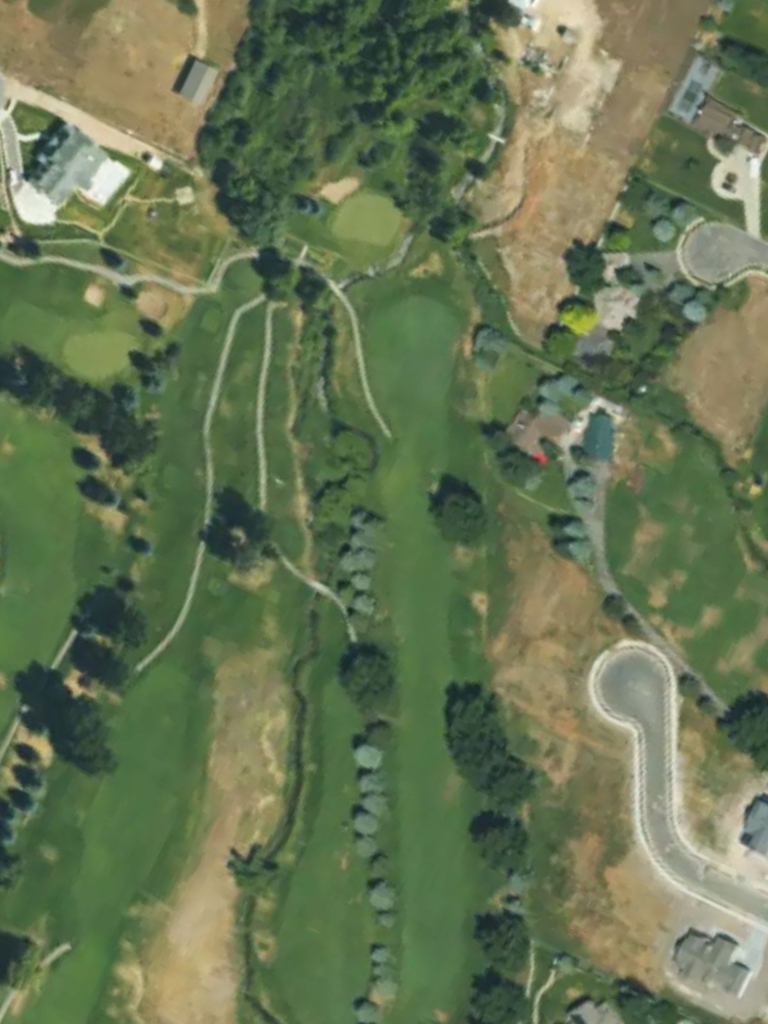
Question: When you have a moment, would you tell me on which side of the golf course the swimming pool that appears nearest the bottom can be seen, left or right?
to the right of it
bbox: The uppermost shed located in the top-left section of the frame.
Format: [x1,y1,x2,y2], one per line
[181,57,219,103]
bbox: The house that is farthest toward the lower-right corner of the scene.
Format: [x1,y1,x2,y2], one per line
[674,936,752,1001]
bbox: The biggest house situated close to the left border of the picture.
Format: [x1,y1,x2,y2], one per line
[32,122,131,205]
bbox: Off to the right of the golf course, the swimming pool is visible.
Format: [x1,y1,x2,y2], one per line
[566,398,627,463]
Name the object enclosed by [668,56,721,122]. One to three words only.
shed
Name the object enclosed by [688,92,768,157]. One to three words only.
house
